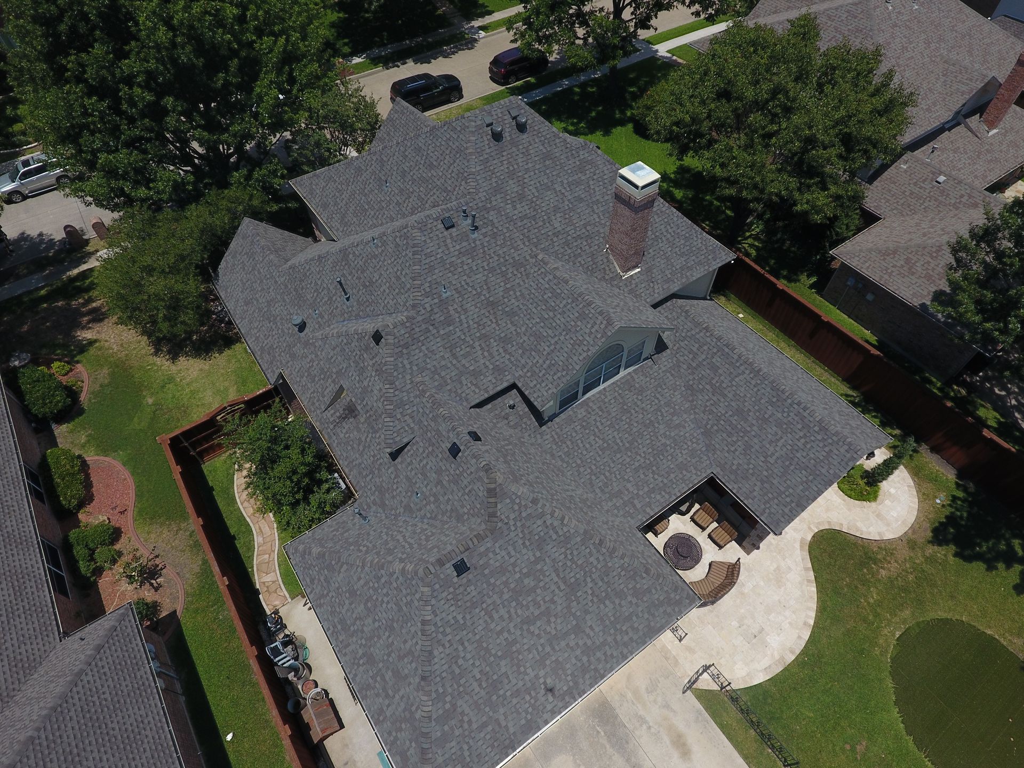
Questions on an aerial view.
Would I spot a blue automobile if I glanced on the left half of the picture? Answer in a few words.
No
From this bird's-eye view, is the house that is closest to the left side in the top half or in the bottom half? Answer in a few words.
bottom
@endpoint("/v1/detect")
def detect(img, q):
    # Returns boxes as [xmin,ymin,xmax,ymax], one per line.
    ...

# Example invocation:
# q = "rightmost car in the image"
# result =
[496,45,554,82]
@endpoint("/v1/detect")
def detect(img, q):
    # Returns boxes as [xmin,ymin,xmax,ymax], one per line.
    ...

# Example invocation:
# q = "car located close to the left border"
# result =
[0,148,82,203]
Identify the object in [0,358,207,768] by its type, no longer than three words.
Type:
house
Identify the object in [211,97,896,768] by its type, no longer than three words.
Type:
house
